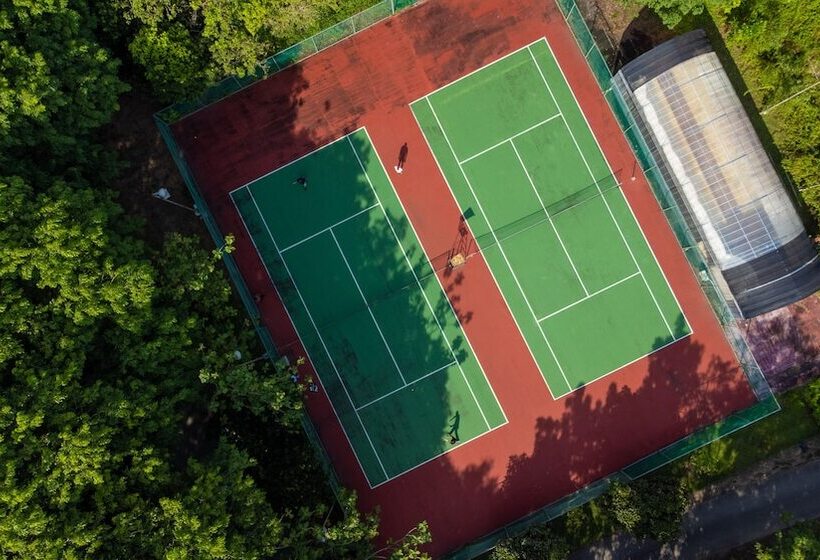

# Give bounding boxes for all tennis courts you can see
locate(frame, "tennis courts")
[229,126,509,489]
[408,36,693,400]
